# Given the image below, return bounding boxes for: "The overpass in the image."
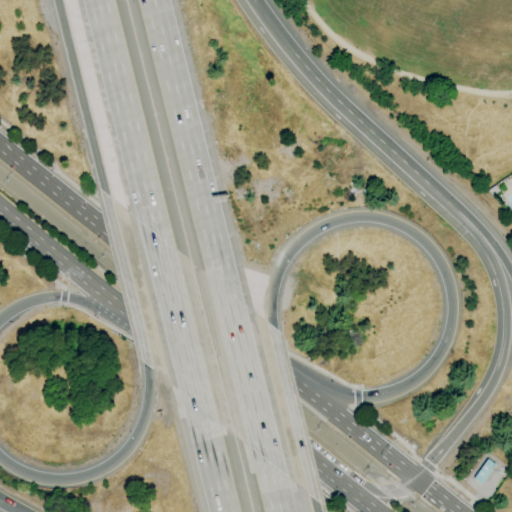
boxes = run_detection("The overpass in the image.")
[100,190,324,504]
